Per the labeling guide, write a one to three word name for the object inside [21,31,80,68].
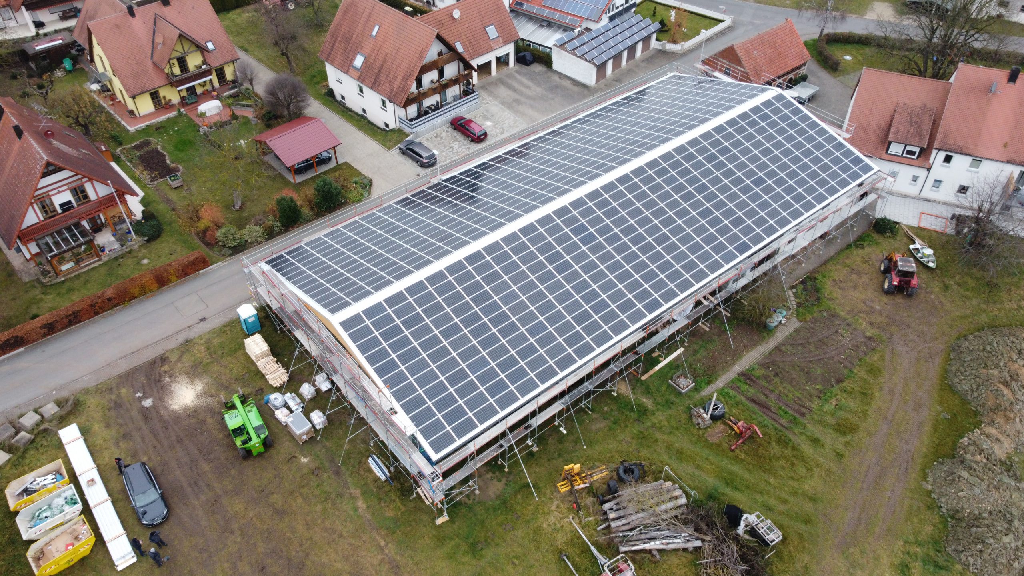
shed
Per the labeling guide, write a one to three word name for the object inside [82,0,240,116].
house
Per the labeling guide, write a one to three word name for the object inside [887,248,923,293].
work vehicle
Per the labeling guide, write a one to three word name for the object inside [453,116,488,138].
car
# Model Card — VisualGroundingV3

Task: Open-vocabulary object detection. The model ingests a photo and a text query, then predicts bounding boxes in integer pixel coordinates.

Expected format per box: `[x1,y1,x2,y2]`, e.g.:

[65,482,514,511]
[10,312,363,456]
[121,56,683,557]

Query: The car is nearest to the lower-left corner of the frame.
[118,461,172,528]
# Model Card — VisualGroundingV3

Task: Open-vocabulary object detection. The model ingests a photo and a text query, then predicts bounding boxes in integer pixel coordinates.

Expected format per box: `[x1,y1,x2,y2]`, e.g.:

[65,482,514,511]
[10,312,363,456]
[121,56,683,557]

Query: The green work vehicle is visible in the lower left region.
[217,391,275,460]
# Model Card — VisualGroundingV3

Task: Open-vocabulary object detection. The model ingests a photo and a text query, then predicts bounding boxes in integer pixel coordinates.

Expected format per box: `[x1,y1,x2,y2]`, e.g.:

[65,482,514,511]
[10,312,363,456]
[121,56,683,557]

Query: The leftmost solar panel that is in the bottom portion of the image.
[287,415,308,438]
